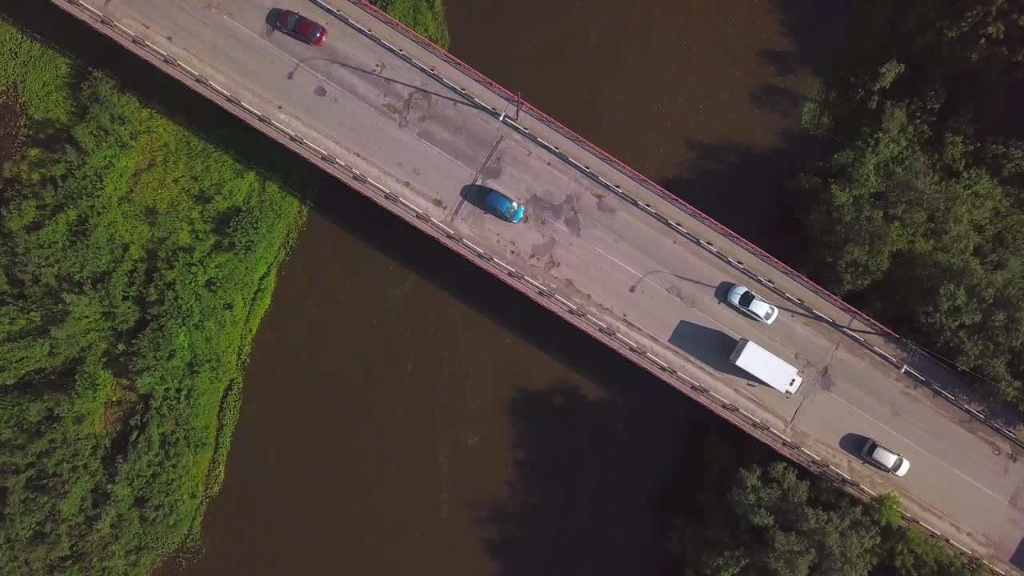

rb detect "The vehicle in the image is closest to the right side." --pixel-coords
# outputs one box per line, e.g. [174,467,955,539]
[860,440,907,476]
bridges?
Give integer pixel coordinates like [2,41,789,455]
[48,0,857,449]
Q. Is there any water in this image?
Yes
